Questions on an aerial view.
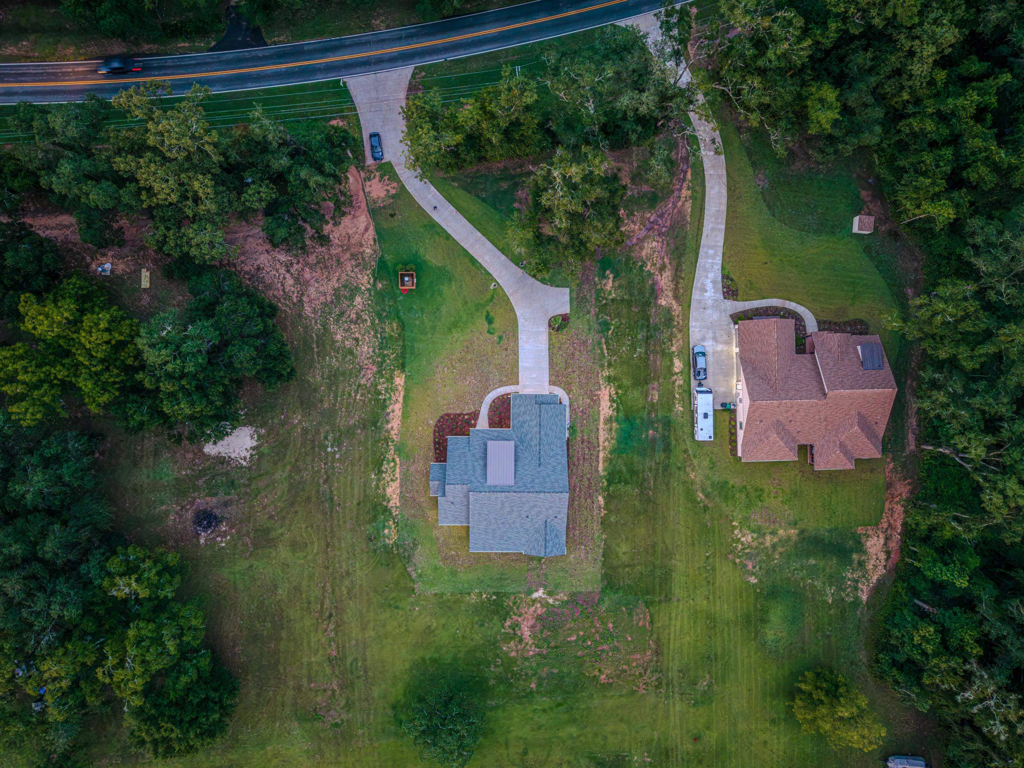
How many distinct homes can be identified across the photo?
2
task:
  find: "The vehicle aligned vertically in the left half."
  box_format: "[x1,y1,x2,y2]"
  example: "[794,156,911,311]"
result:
[370,131,385,162]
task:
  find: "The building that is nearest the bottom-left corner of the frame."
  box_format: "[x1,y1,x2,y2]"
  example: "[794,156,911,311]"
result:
[429,394,569,557]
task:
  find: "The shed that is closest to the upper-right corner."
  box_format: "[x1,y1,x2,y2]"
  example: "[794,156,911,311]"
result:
[852,214,875,233]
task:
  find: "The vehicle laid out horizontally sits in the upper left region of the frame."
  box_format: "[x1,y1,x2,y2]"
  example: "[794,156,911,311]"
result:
[102,58,139,74]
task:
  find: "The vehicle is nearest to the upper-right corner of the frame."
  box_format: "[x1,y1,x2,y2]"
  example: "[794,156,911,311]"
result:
[692,345,707,381]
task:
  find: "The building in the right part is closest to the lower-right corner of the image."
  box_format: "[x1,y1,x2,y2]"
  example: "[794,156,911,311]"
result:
[733,315,899,471]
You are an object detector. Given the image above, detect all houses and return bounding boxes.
[429,394,569,557]
[733,315,899,471]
